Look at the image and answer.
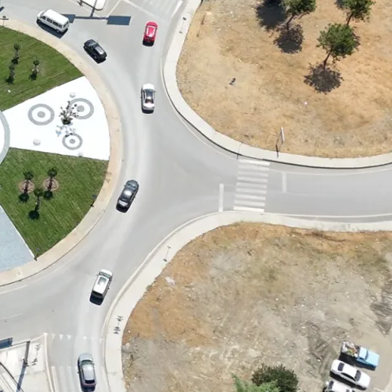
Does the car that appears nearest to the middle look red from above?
No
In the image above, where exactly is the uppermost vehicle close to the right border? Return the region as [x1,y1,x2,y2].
[339,339,381,370]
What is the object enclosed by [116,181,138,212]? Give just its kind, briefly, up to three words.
car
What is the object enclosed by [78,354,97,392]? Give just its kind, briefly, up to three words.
car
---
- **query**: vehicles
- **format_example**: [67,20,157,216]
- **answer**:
[35,9,73,36]
[339,339,381,370]
[89,269,112,304]
[82,40,108,61]
[329,359,372,390]
[142,23,158,46]
[78,354,97,392]
[116,181,138,212]
[321,376,358,392]
[140,85,157,112]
